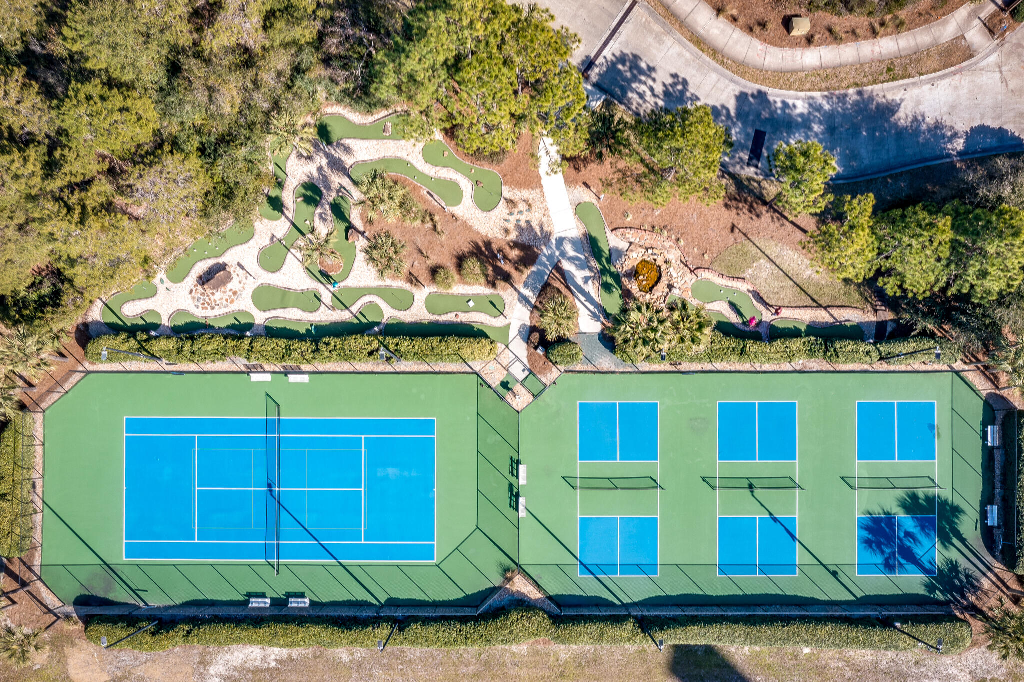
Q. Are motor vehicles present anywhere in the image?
No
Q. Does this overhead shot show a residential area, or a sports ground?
sports ground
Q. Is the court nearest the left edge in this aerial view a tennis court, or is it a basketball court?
tennis court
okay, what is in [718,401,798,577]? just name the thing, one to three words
sports court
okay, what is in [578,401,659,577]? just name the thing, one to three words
sports court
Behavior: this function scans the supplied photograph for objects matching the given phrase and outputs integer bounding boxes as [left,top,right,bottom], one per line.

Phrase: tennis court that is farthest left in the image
[41,373,518,606]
